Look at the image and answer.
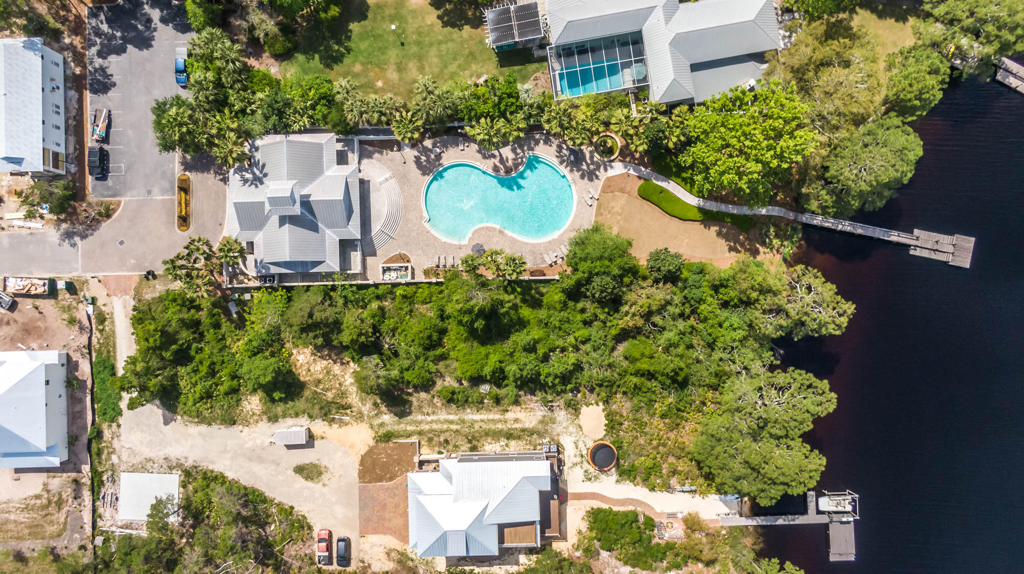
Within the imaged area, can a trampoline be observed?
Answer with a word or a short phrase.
Yes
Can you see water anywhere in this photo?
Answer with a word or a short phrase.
Yes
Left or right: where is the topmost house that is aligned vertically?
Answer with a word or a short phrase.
left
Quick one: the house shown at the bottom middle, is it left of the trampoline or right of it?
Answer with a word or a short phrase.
to the left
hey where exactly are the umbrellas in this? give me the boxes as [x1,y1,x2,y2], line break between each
[471,242,485,257]
[628,61,648,81]
[567,148,580,162]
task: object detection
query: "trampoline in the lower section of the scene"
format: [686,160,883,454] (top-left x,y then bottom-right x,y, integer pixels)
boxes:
[588,441,617,474]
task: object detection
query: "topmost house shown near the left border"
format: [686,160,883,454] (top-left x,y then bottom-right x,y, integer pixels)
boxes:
[0,34,64,175]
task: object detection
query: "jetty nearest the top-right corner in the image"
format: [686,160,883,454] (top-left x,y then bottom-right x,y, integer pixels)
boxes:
[990,57,1024,94]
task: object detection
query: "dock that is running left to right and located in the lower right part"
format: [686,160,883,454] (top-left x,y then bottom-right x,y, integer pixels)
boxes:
[720,491,858,561]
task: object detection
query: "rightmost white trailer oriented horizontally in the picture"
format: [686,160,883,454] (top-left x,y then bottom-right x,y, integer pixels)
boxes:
[271,426,311,445]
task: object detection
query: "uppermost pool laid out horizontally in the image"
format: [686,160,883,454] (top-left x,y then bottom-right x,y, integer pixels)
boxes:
[557,60,629,97]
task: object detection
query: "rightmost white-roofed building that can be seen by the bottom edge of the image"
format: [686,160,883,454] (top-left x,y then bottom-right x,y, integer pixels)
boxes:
[407,452,560,559]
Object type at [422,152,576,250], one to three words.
swimming pool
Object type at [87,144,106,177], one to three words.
car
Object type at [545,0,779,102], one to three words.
house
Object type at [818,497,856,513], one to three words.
boat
